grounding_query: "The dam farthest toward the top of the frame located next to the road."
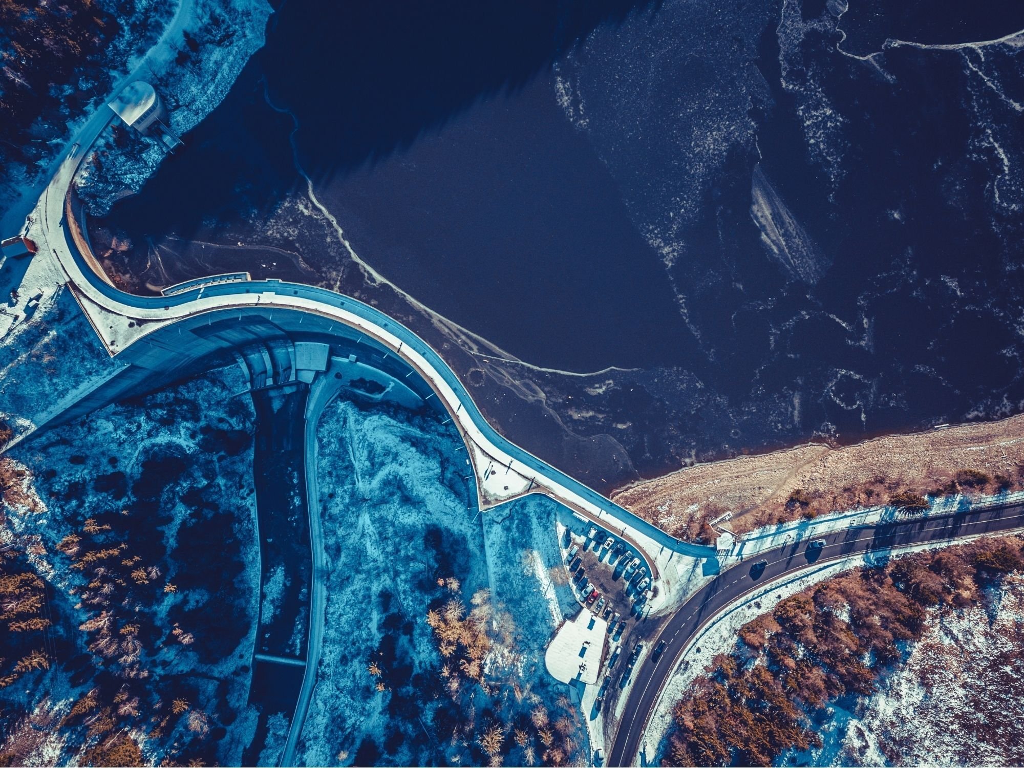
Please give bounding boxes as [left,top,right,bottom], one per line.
[0,109,717,622]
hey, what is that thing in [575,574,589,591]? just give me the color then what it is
blue car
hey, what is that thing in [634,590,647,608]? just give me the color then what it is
blue vehicle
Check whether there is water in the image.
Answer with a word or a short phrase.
Yes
